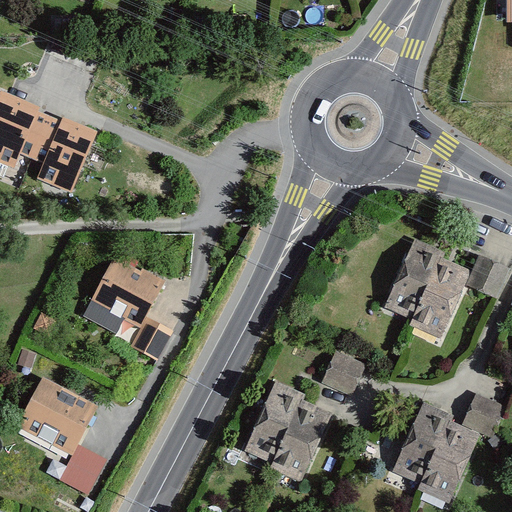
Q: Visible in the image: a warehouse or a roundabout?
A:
roundabout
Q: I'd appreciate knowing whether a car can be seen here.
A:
Yes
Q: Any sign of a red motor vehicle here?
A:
No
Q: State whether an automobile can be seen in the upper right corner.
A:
Yes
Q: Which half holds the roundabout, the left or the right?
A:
right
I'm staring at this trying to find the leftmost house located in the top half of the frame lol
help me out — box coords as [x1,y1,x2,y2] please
[0,89,58,168]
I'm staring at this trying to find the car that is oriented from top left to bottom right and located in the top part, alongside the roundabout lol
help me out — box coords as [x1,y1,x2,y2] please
[410,120,432,140]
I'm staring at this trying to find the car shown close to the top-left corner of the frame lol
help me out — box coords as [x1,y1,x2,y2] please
[7,84,29,100]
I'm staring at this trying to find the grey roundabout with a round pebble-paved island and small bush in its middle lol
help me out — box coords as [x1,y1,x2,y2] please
[290,56,418,188]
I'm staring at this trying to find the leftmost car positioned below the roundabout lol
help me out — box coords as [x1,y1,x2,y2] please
[322,386,345,402]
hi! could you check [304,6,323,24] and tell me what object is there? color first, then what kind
blue swimming pool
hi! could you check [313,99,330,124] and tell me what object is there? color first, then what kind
white vehicle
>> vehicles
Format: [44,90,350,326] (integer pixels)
[410,120,432,140]
[472,222,492,237]
[7,84,29,100]
[322,386,345,402]
[488,216,512,234]
[482,172,505,189]
[468,234,488,248]
[313,99,330,124]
